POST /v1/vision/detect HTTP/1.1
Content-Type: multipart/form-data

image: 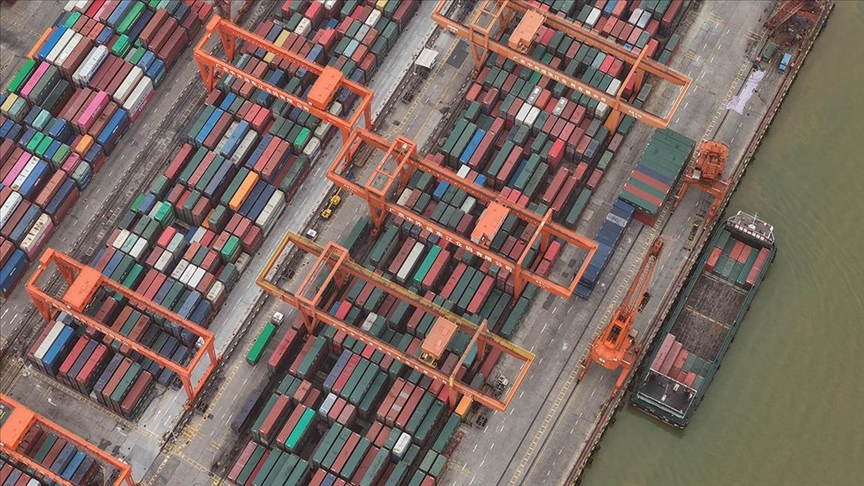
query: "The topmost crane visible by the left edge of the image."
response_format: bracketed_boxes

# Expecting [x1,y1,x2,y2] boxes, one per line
[23,246,224,407]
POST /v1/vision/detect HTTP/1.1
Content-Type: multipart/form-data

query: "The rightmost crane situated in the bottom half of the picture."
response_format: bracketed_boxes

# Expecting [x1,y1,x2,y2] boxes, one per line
[575,233,672,401]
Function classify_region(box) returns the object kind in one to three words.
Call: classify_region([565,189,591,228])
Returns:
shipping container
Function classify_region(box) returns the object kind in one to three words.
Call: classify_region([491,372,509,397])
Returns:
vehicle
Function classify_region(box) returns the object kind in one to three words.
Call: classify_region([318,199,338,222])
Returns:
work vehicle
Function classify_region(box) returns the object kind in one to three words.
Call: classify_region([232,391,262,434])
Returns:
shipping container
